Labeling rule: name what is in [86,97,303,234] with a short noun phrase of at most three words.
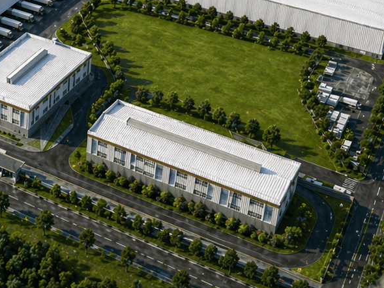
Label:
building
